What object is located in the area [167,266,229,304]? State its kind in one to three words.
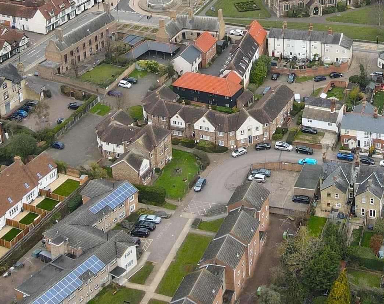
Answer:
building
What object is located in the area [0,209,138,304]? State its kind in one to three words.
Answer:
building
